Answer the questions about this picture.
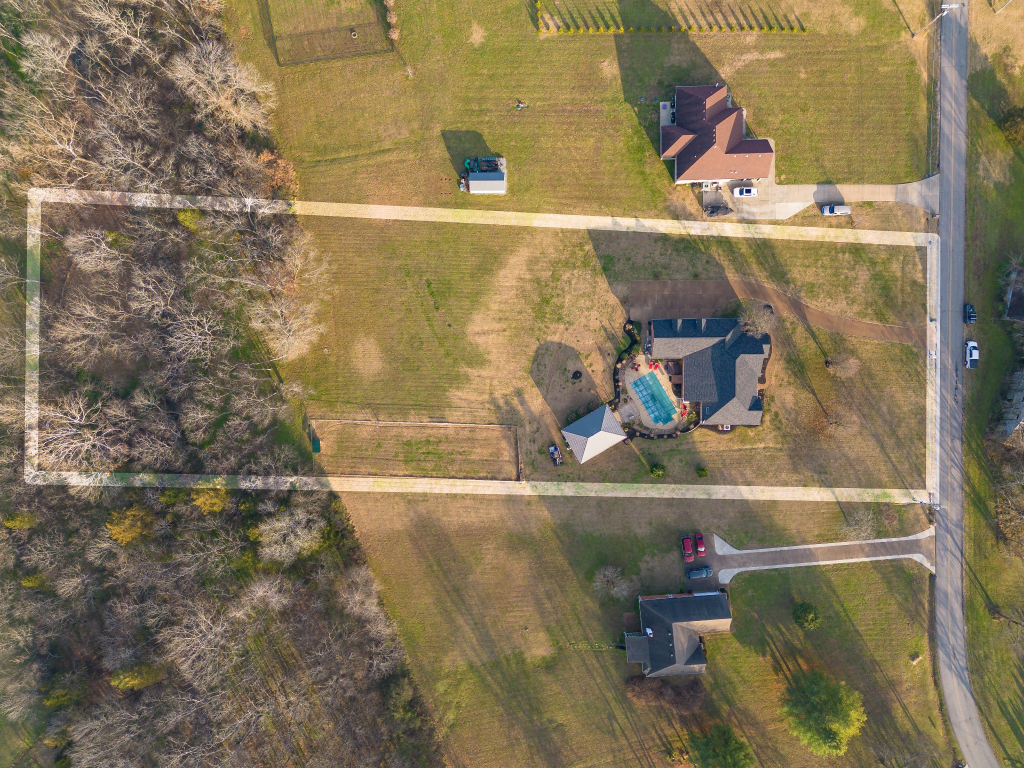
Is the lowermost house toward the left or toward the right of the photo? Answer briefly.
right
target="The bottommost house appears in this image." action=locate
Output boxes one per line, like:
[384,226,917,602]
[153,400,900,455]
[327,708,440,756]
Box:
[624,592,732,677]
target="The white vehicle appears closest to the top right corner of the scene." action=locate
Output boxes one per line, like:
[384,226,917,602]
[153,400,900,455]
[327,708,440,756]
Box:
[821,204,852,216]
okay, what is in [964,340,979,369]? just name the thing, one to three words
vehicle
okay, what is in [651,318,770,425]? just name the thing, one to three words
house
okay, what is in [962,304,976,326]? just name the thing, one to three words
car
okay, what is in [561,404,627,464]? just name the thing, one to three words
building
